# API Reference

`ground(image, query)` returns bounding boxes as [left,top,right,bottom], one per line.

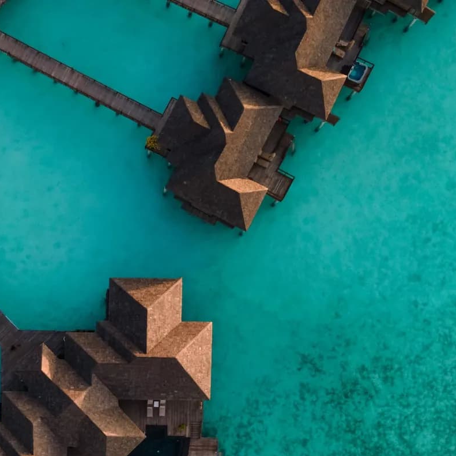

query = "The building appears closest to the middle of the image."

[143,77,296,235]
